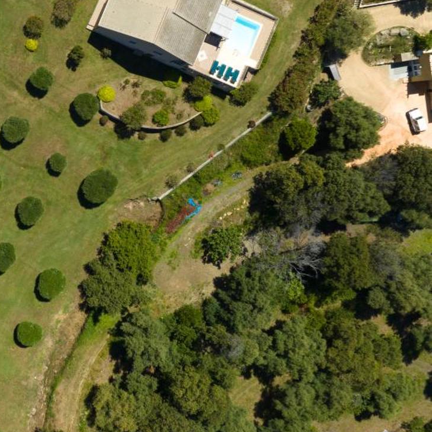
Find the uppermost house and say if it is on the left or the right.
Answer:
left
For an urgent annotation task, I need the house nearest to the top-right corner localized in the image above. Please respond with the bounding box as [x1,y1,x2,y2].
[396,51,432,96]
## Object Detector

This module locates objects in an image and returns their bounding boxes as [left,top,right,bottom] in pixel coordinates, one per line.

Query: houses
[75,0,221,69]
[396,51,432,96]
